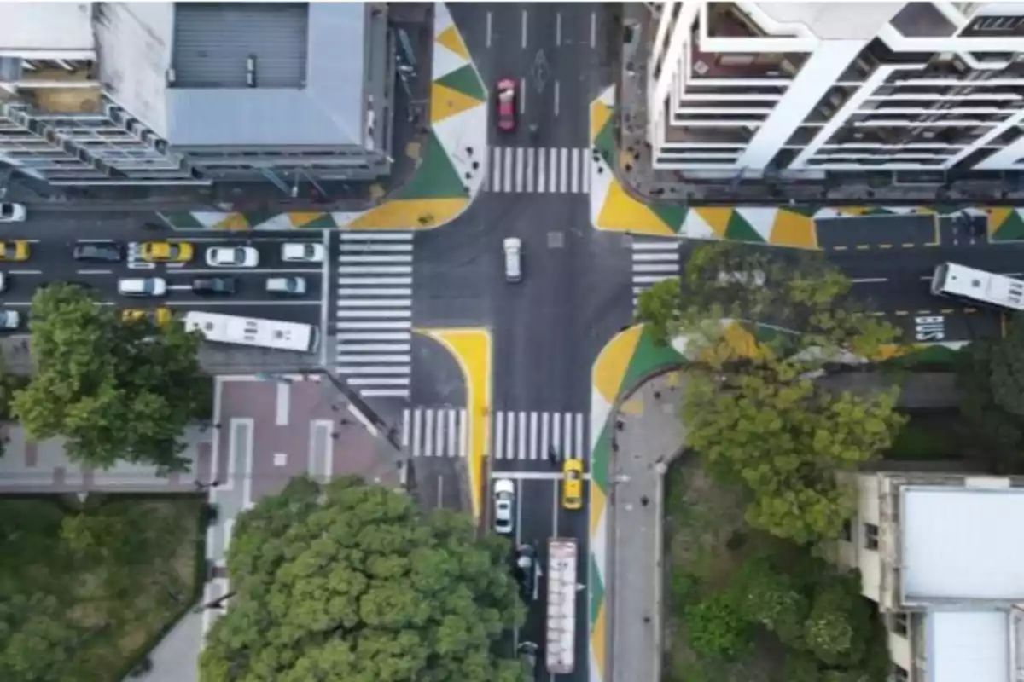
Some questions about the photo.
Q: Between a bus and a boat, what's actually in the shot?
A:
bus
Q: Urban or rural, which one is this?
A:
urban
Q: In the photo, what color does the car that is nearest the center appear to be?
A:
white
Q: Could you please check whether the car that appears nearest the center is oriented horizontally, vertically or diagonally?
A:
vertically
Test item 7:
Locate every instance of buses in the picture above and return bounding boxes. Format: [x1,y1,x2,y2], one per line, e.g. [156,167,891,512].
[185,312,321,356]
[930,264,1024,315]
[544,535,578,675]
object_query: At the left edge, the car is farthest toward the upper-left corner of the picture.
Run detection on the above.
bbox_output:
[0,201,30,223]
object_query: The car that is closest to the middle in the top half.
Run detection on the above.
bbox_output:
[502,238,523,283]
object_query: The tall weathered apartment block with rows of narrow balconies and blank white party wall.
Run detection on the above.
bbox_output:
[0,0,213,194]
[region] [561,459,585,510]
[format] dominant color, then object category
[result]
yellow car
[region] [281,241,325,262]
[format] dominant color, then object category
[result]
white car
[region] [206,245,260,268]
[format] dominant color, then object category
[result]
white car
